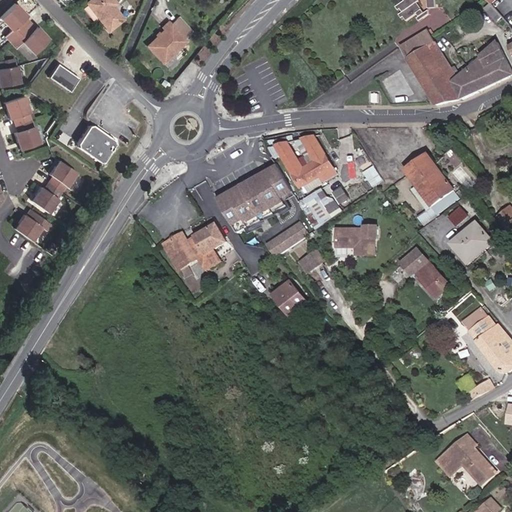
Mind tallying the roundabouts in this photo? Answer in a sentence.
I count 1 roundabout.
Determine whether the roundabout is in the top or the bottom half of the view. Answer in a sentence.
Seen from above, the roundabout lies in the top half of the view.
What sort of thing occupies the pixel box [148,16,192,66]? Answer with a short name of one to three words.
house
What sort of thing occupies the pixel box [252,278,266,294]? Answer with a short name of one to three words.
vehicle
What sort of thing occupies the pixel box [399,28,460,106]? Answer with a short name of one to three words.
barn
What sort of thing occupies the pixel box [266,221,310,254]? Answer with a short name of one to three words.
shed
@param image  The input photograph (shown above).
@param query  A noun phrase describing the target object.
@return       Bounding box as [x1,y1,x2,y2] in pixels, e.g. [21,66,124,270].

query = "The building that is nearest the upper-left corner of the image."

[1,4,34,48]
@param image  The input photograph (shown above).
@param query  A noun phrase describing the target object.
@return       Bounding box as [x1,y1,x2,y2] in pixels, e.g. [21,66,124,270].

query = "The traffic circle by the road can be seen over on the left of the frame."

[154,94,220,161]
